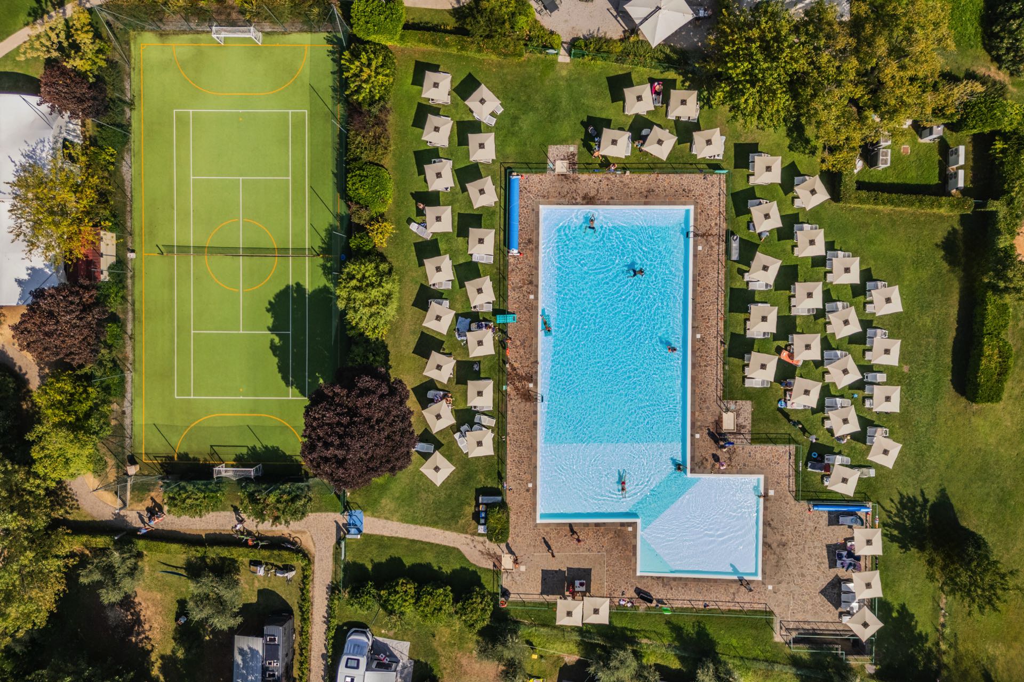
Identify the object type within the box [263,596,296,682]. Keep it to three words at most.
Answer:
camper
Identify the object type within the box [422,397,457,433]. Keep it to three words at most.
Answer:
umbrella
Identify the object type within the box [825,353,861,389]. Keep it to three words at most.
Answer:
umbrella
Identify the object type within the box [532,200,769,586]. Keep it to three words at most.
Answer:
swimming pool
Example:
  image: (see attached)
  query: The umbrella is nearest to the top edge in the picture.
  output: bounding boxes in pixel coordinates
[623,0,695,48]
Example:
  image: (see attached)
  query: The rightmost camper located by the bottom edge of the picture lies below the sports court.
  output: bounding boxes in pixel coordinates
[337,618,377,682]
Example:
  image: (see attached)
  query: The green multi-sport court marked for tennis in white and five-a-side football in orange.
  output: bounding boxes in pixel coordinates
[131,31,350,477]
